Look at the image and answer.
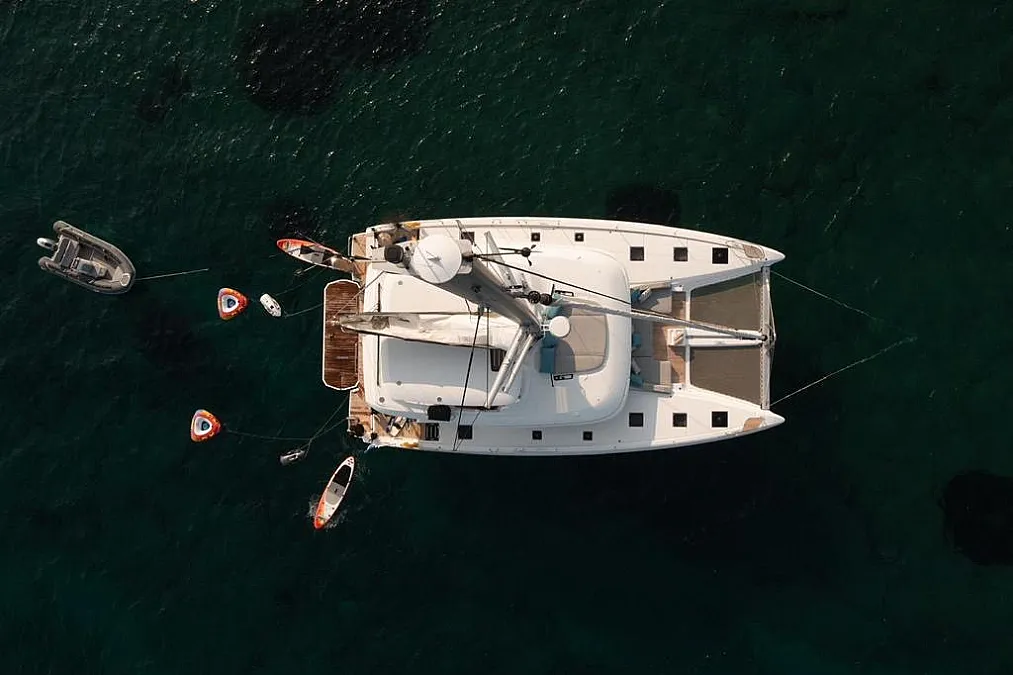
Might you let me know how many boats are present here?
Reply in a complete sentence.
The count of boats comes to 2.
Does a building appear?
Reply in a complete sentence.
No, no building is visible in the scene.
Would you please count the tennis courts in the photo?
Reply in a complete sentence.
Not a single tennis court can be seen.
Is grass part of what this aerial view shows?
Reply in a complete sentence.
No, there is no grass in the image.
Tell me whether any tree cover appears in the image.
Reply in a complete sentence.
No, the scene doesn't show any tree cover.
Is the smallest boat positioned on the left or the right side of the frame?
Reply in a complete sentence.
The smallest boat sits on the left side.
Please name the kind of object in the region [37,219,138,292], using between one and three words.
boat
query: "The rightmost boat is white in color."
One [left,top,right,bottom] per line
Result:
[322,217,787,457]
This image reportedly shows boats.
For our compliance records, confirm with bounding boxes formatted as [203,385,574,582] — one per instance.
[37,219,138,292]
[322,217,787,457]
